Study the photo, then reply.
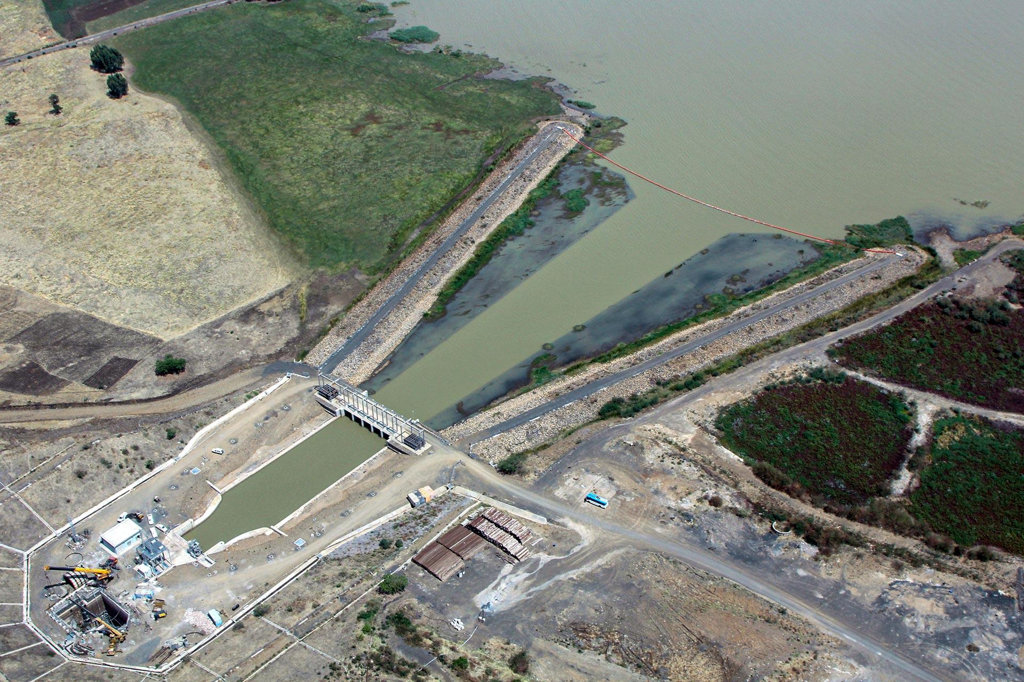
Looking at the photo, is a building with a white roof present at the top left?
No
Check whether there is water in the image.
Yes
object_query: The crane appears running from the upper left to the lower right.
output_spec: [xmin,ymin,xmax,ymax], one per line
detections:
[66,596,131,654]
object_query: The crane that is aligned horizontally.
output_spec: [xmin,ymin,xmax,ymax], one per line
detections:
[44,554,117,585]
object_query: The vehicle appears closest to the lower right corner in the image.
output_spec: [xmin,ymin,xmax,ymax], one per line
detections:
[584,491,609,505]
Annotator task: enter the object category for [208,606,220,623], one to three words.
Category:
vehicle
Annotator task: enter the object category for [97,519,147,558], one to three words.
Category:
building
